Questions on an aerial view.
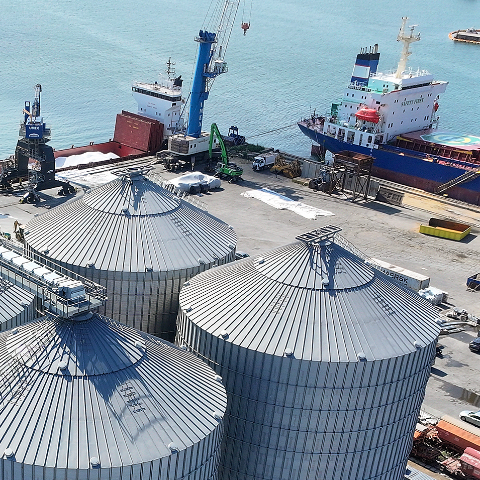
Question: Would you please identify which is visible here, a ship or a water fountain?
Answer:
ship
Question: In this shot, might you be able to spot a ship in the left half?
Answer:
Yes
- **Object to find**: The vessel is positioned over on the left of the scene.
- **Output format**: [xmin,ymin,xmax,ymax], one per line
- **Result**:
[53,61,206,175]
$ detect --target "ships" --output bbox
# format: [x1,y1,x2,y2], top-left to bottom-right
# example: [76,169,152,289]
[296,3,480,199]
[53,61,206,175]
